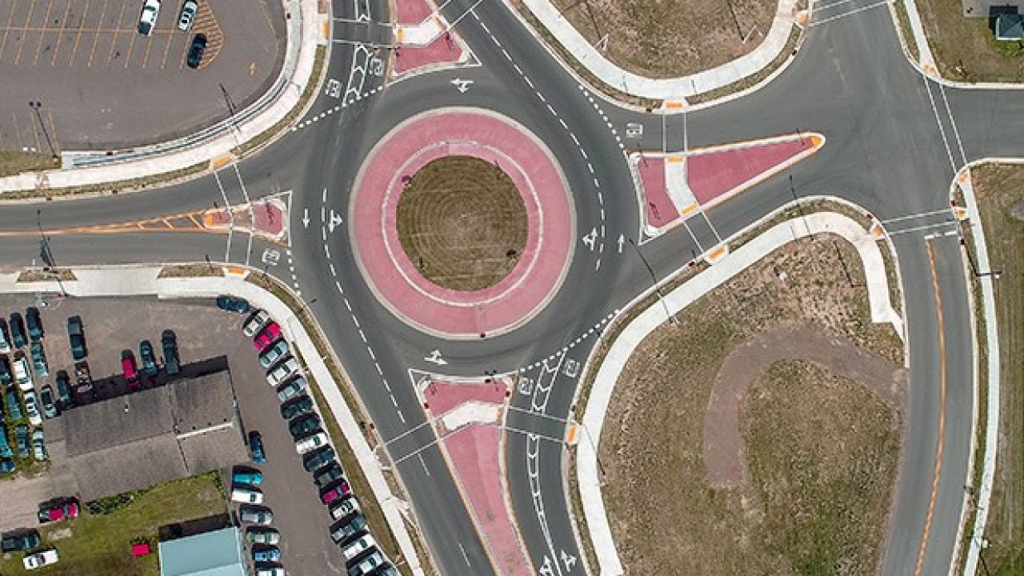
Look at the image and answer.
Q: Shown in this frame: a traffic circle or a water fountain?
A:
traffic circle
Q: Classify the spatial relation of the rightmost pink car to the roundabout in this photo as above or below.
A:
below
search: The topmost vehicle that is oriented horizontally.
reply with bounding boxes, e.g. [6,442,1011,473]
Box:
[216,295,249,313]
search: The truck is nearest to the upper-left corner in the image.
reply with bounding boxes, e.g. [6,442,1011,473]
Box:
[138,0,161,36]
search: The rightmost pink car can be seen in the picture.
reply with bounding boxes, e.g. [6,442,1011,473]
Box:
[318,479,352,504]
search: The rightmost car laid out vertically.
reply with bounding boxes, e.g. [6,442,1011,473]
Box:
[247,431,265,463]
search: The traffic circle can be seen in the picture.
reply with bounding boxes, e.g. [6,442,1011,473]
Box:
[308,66,619,380]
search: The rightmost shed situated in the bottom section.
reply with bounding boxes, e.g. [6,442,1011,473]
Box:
[158,524,251,576]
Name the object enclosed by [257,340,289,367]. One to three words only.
car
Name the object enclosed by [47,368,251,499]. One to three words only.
building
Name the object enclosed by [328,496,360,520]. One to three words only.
car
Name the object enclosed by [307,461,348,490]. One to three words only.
truck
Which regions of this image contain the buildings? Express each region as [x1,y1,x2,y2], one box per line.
[158,524,251,576]
[993,14,1024,41]
[47,368,251,499]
